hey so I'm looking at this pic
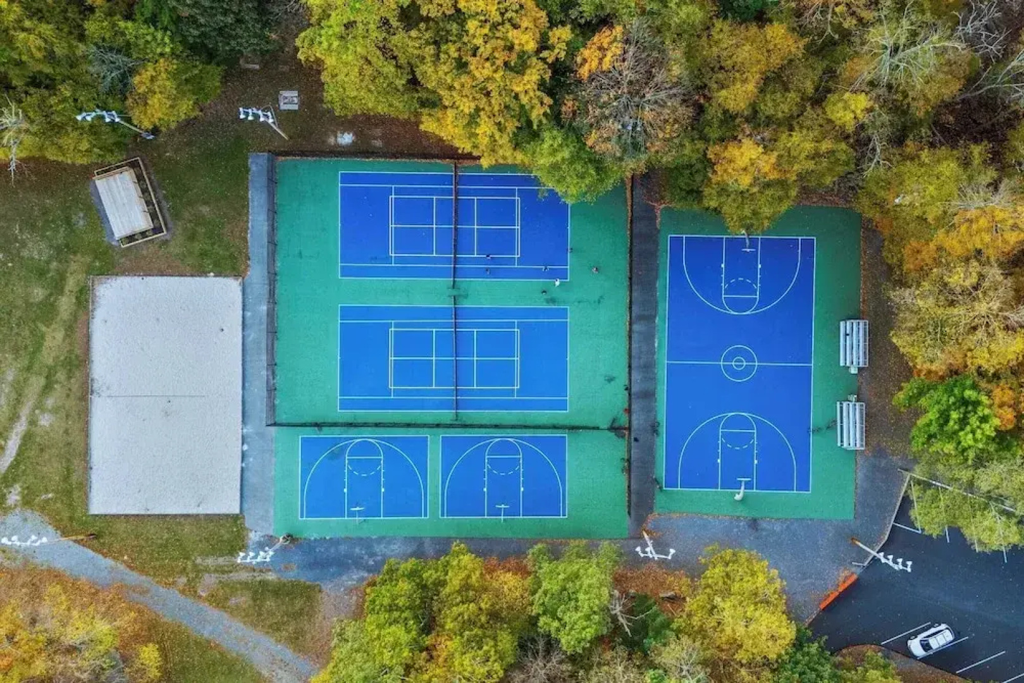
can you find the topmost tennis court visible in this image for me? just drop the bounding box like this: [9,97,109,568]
[276,159,628,292]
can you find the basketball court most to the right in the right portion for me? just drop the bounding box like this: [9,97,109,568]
[655,207,860,520]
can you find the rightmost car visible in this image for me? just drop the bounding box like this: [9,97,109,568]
[905,622,955,658]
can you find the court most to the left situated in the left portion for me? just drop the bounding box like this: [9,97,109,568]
[88,276,243,515]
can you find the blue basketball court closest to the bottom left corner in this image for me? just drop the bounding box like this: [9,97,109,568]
[274,423,434,538]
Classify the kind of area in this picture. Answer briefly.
sports ground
